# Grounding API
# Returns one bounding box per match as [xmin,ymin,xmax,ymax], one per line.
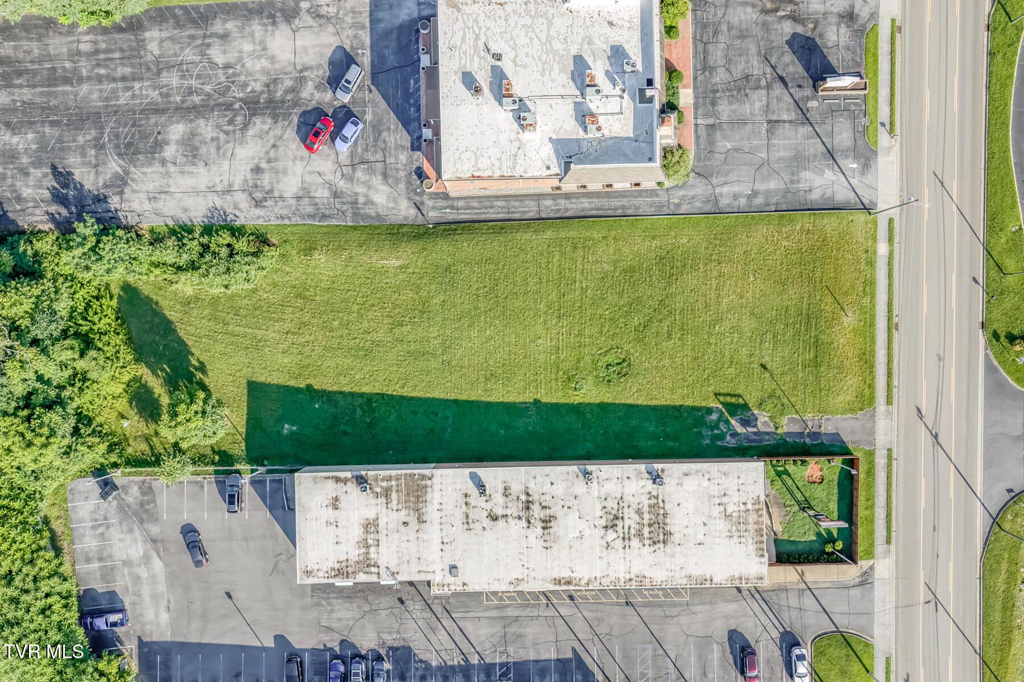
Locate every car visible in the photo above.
[369,657,388,682]
[336,115,364,154]
[225,474,244,513]
[305,116,336,155]
[788,645,808,682]
[740,646,761,682]
[348,655,367,682]
[186,528,212,570]
[328,657,346,682]
[336,63,366,104]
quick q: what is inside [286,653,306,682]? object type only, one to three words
vehicle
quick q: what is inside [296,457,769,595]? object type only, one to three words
building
